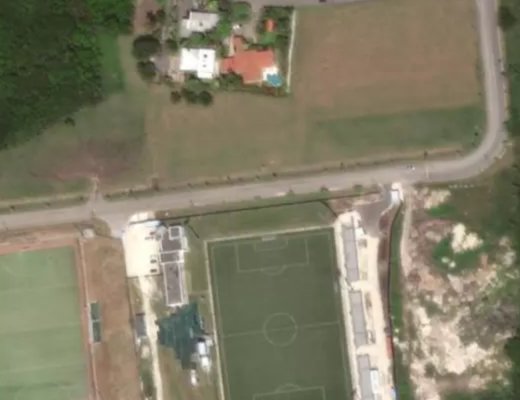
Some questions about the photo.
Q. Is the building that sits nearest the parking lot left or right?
left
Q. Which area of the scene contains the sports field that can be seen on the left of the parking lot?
bottom left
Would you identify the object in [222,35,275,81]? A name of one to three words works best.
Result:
house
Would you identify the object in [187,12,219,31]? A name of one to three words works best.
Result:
house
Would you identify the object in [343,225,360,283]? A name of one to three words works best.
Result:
building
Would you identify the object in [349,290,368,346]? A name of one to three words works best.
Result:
building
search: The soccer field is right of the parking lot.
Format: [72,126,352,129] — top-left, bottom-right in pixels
[207,226,353,400]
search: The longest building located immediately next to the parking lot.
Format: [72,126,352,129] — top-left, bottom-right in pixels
[160,224,187,305]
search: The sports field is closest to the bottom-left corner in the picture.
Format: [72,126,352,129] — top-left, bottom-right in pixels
[0,246,91,400]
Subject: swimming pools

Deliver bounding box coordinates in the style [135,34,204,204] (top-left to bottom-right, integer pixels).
[263,66,283,87]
